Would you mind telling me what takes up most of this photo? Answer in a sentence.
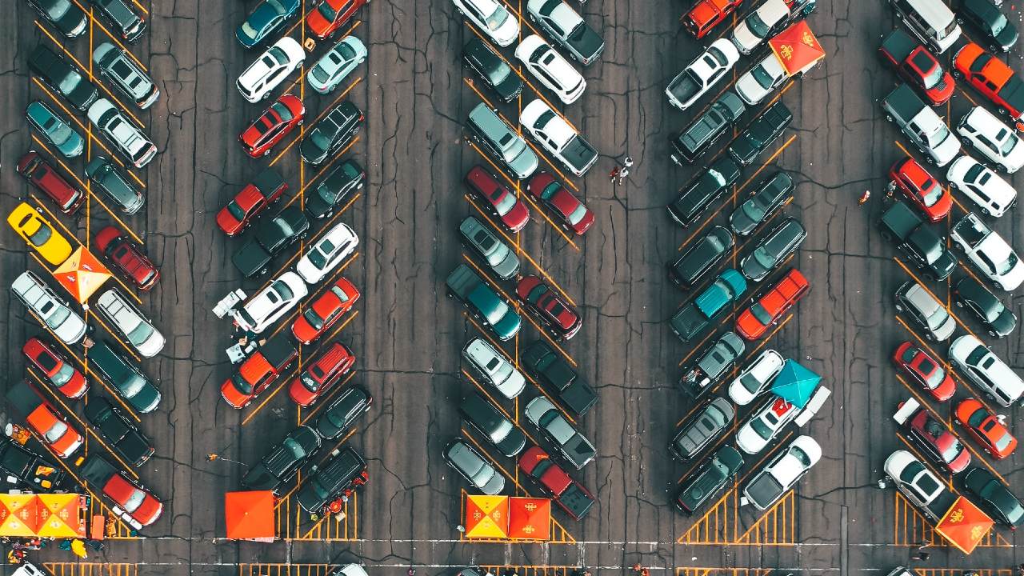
What you mostly see from above here is paved ground.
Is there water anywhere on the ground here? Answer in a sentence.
No, water can't be seen anywhere here.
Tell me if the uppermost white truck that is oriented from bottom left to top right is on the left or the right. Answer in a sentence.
The uppermost white truck that is oriented from bottom left to top right sits on the right side.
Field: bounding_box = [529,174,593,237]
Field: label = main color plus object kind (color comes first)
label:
red car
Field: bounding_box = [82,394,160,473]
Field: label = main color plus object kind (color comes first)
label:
black truck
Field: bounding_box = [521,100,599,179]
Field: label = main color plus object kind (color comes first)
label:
white truck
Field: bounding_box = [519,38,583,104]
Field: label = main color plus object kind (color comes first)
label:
white car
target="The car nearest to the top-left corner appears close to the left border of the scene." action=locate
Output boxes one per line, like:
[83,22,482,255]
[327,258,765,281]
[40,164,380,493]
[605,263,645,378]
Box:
[30,0,89,40]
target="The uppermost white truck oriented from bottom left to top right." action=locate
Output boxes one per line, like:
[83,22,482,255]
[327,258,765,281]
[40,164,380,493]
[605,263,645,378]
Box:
[730,0,805,59]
